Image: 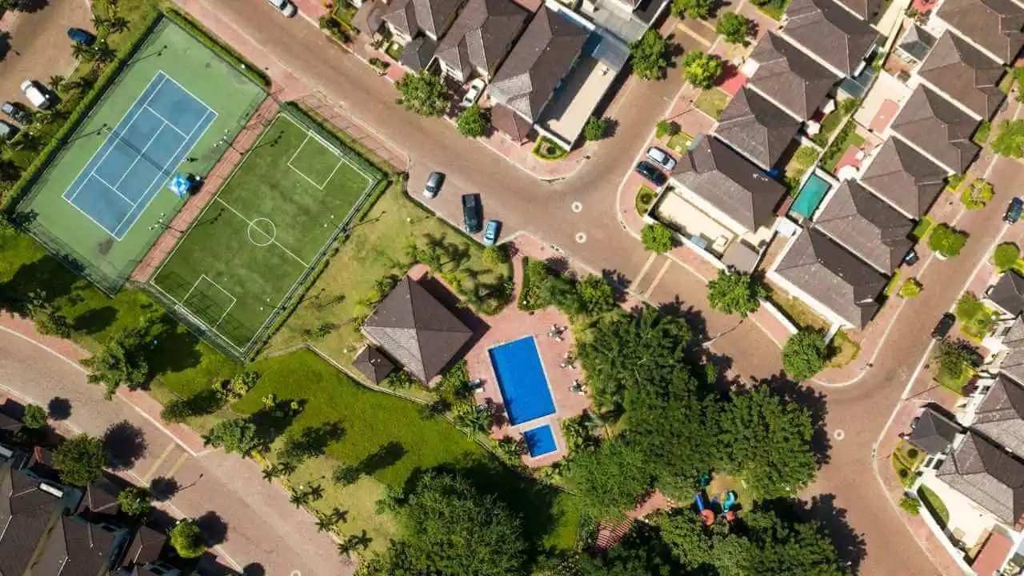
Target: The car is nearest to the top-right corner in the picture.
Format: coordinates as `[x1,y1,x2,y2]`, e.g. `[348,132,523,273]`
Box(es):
[1001,195,1024,226]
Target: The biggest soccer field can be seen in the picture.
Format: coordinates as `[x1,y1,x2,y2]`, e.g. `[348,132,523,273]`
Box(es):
[144,106,384,356]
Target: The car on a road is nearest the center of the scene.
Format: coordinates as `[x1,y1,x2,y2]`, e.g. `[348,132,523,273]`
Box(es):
[483,219,499,246]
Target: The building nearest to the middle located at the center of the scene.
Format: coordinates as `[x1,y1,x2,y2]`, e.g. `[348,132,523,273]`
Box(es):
[360,276,472,384]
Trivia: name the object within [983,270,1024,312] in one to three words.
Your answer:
building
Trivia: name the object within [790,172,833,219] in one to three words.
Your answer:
swimming pool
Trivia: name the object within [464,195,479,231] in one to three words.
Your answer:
vehicle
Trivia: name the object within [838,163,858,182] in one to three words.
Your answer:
umbrella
